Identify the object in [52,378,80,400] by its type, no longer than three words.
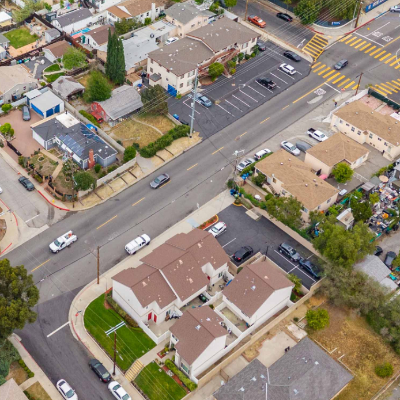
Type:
car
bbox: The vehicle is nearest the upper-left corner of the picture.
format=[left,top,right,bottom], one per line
[17,106,34,121]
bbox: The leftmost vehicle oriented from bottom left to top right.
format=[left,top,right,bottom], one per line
[46,227,80,255]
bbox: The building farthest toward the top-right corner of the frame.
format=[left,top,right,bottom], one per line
[333,91,400,160]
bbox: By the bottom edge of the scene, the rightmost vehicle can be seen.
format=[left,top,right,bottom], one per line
[106,380,133,400]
